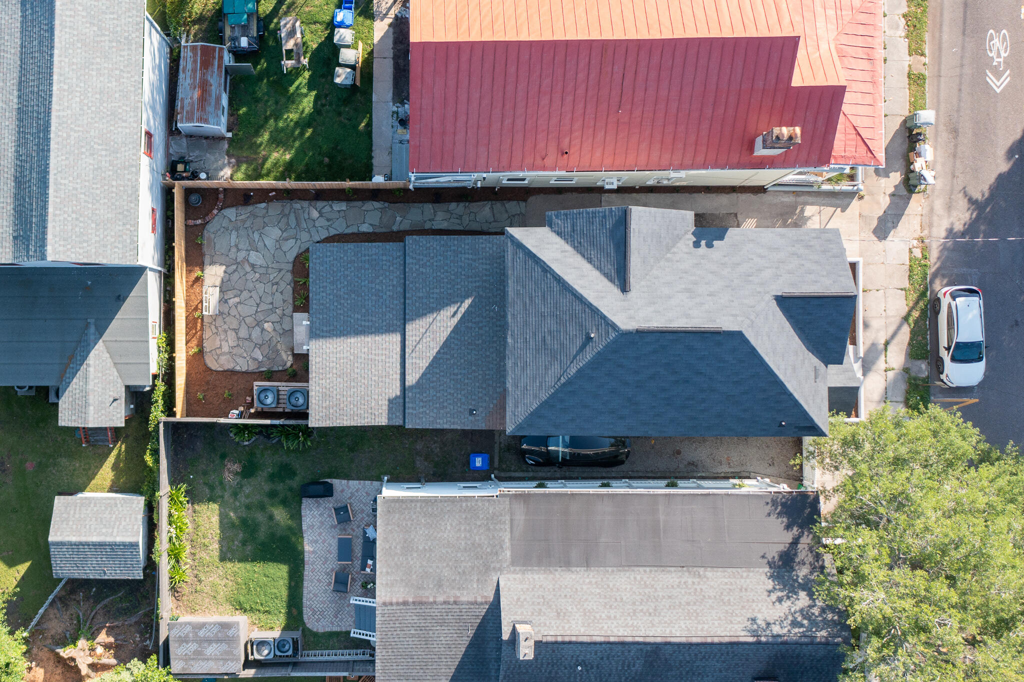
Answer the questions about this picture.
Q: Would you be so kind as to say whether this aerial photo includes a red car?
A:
No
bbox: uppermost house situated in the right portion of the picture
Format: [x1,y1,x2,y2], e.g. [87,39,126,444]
[405,0,889,196]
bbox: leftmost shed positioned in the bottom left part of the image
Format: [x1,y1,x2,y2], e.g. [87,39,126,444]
[48,487,156,579]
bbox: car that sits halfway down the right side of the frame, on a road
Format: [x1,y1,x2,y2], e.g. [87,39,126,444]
[932,288,989,387]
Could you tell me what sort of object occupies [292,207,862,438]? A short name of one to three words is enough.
house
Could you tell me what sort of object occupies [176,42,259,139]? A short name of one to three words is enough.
shed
